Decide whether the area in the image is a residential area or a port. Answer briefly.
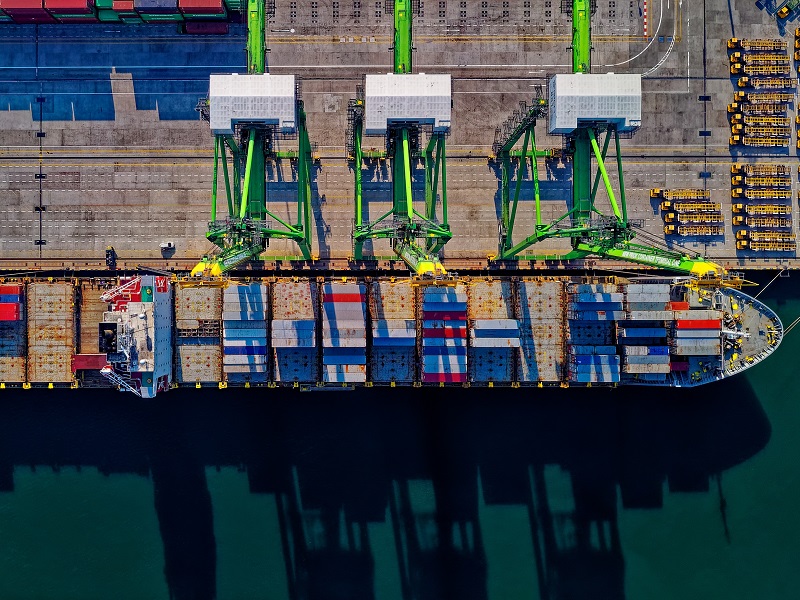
port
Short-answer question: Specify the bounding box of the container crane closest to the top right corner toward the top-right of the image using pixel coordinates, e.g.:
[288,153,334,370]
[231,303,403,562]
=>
[482,0,756,291]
